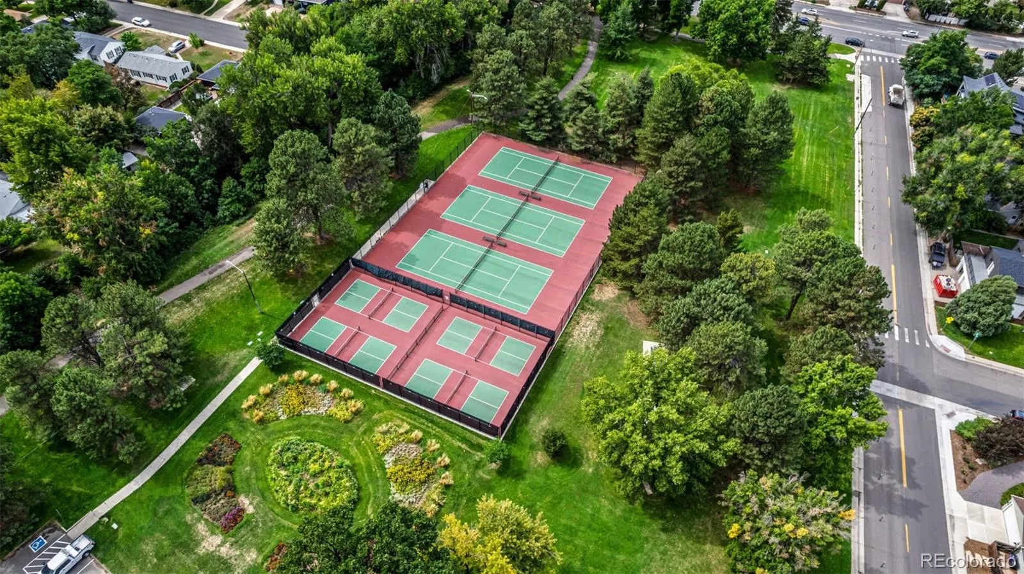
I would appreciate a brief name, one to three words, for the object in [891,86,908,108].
vehicle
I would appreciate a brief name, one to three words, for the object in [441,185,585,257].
tennis court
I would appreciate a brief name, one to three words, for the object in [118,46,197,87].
house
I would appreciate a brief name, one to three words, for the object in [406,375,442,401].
sports court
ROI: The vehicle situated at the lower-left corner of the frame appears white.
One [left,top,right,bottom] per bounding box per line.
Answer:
[43,536,99,574]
